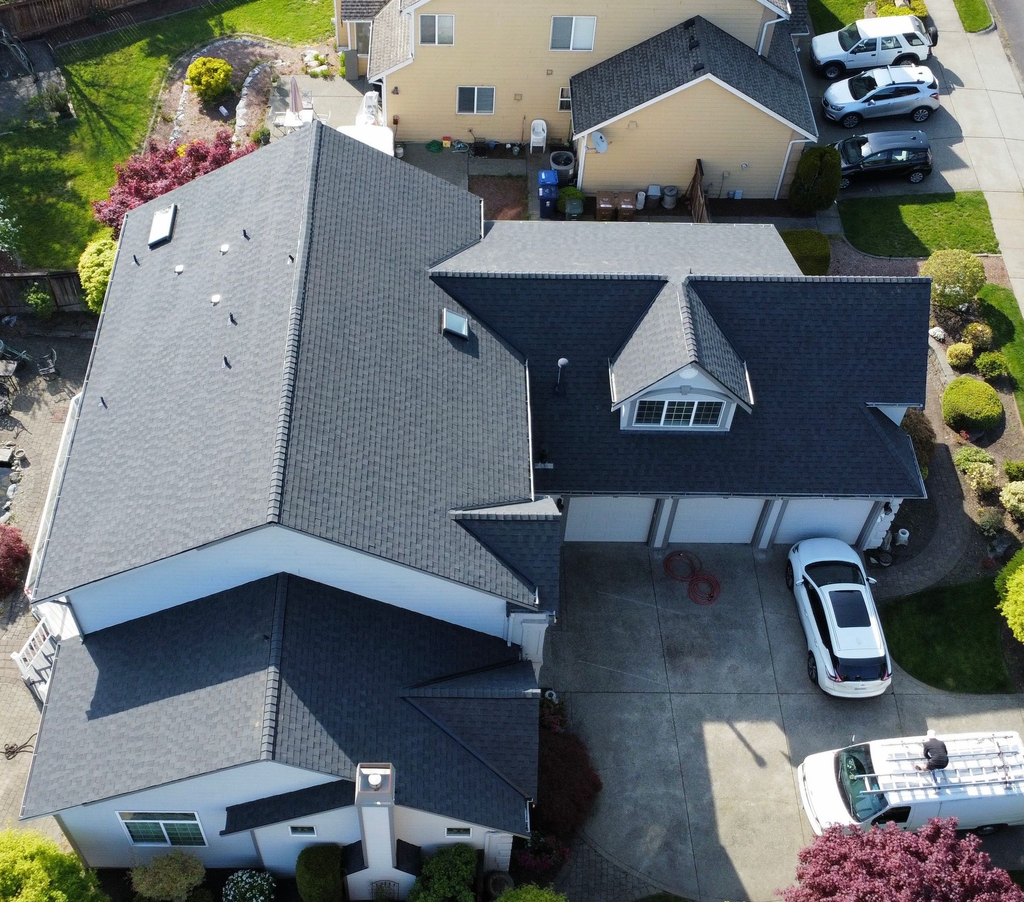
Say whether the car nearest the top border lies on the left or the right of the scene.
right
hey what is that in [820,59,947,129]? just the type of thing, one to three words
car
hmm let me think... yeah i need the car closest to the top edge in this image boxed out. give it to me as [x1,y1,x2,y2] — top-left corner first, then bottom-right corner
[800,6,937,79]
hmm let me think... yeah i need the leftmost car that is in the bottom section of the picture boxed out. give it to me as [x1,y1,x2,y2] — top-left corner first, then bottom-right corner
[790,545,897,710]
